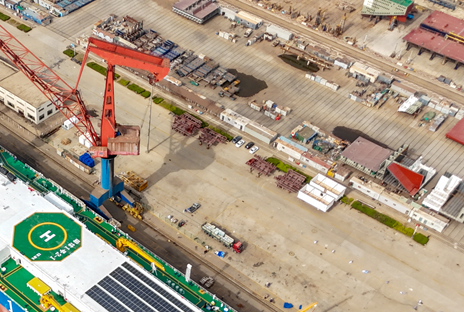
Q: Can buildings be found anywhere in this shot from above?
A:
Yes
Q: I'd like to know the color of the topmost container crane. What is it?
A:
red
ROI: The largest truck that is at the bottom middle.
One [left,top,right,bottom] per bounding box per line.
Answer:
[201,224,241,255]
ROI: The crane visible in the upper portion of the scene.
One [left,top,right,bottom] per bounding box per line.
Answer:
[0,18,170,223]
